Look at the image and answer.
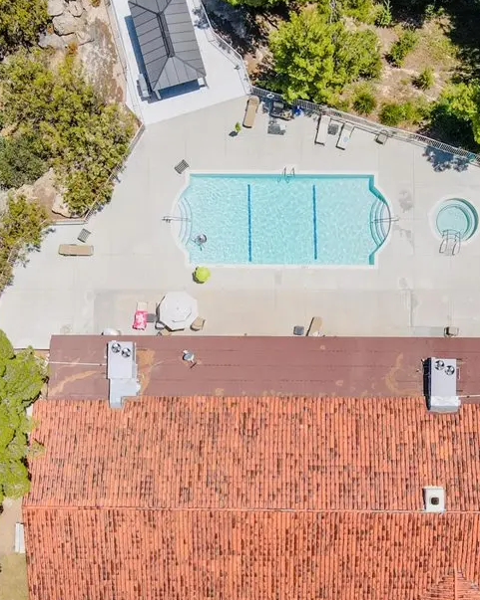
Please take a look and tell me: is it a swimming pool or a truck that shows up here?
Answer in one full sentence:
It is a swimming pool that can be seen here.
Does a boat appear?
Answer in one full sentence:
No, there's no boat here.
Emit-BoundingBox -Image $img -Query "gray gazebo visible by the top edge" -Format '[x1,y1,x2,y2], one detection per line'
[128,0,210,104]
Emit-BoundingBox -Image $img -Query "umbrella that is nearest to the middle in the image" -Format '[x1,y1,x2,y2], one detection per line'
[193,267,208,281]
